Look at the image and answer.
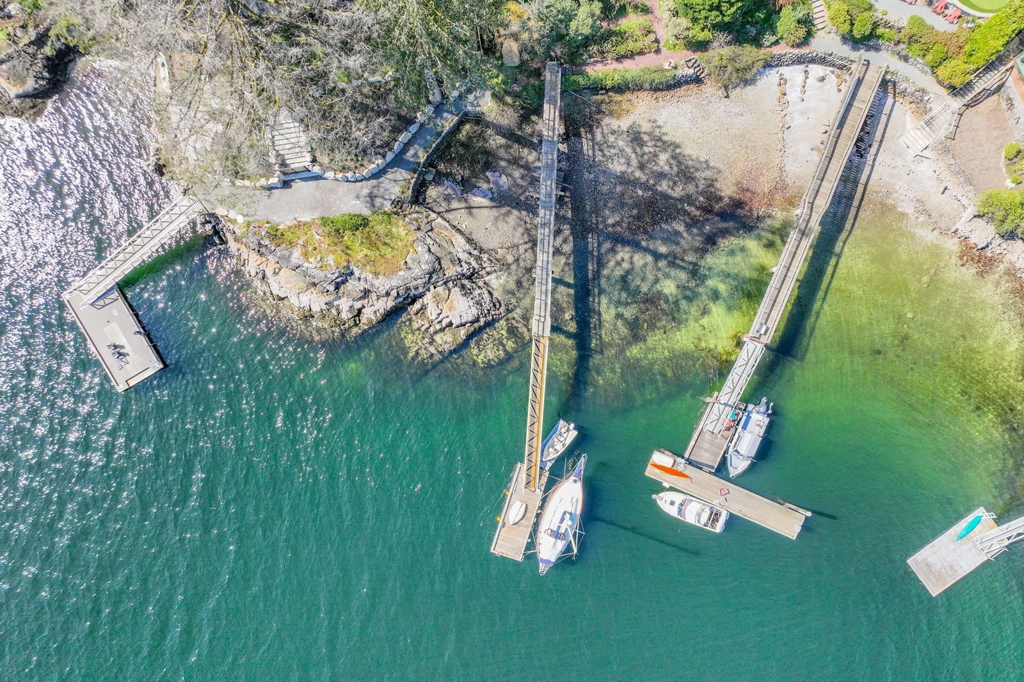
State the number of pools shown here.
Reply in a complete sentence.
There are no pools in the image.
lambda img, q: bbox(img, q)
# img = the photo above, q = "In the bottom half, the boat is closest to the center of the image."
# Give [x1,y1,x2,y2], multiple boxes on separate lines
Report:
[541,419,577,469]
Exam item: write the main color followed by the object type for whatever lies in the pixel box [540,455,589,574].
white boat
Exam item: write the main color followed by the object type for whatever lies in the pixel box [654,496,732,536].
white boat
